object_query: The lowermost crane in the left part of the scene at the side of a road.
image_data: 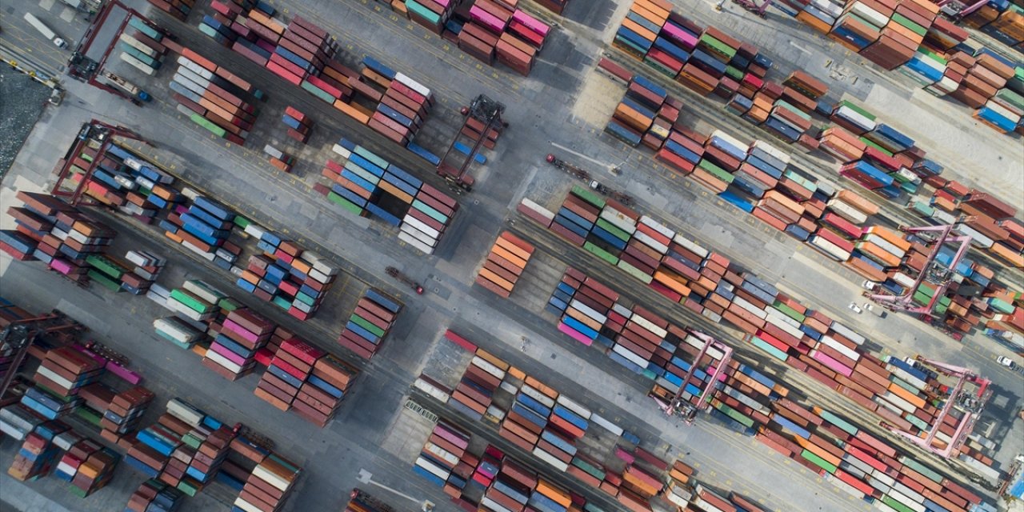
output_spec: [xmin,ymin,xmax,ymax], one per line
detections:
[0,307,92,409]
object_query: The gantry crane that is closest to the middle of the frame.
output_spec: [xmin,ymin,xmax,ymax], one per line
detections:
[431,88,512,196]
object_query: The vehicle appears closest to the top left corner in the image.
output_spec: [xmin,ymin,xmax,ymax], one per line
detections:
[24,11,71,53]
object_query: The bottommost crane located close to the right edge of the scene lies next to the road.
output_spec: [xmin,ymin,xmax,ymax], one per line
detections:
[877,354,993,461]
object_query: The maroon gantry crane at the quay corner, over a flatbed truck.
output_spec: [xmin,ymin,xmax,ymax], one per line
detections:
[59,0,179,108]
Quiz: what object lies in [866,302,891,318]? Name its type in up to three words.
vehicle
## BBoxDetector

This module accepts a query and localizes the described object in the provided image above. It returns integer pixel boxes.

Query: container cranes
[642,324,738,428]
[43,116,163,222]
[0,307,92,409]
[59,0,179,108]
[860,222,977,315]
[431,88,512,196]
[877,354,993,461]
[737,0,779,20]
